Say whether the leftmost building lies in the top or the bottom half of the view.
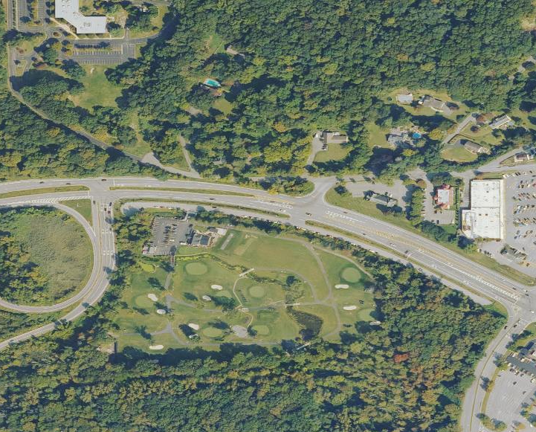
top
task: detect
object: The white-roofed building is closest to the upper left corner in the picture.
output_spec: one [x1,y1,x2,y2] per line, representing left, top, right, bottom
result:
[55,0,106,34]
